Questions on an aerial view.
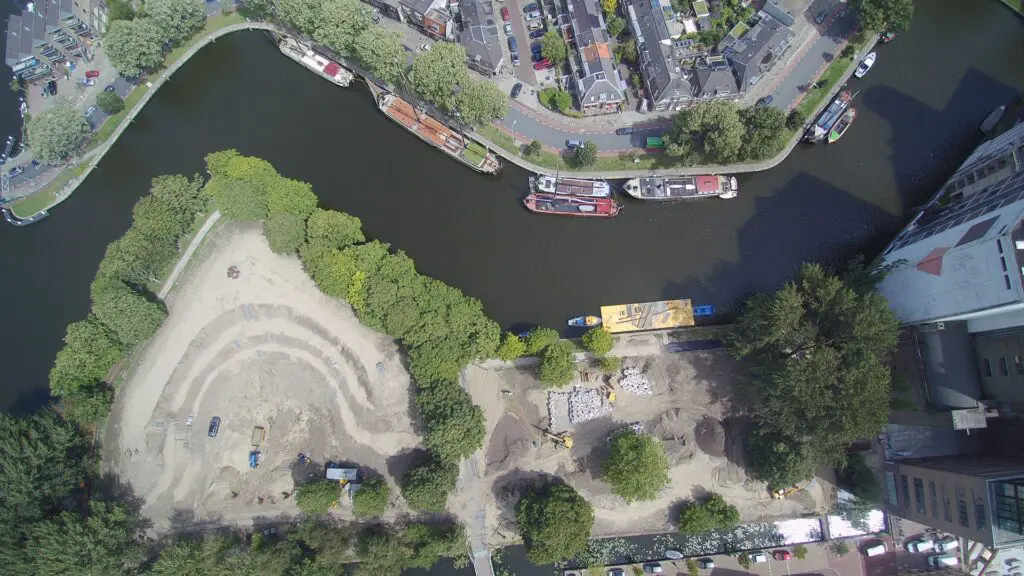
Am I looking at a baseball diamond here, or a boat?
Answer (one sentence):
The image shows a boat.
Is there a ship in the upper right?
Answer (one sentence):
Yes, a ship shows up in the upper right.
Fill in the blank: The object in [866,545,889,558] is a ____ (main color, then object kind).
white vehicle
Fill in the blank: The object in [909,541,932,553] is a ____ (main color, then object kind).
white vehicle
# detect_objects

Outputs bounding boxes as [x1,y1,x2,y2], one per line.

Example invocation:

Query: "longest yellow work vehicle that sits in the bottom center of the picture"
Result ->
[531,422,577,450]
